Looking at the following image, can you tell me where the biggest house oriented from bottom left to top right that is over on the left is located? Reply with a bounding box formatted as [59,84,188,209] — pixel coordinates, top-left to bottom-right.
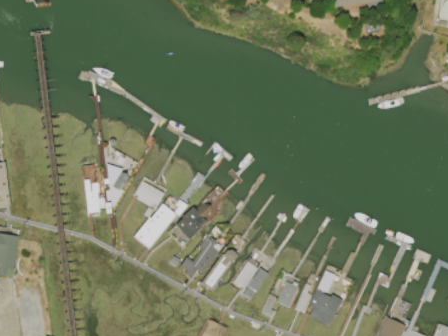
[134,200,188,250]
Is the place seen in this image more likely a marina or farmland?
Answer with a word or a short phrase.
marina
